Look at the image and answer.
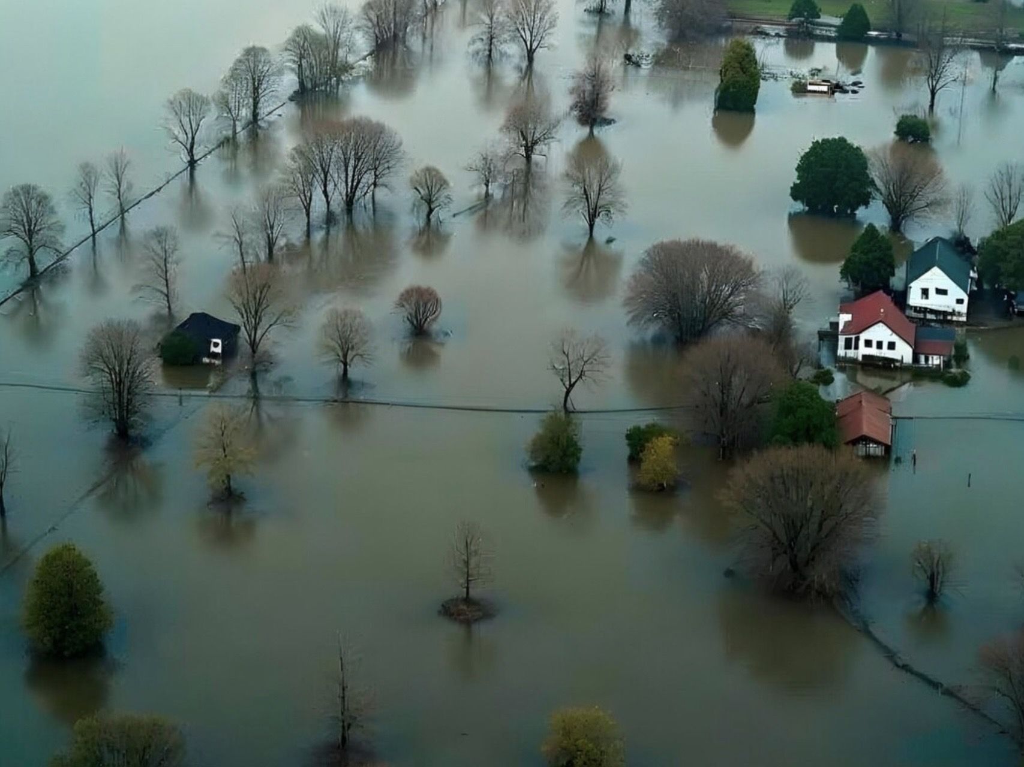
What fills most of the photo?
water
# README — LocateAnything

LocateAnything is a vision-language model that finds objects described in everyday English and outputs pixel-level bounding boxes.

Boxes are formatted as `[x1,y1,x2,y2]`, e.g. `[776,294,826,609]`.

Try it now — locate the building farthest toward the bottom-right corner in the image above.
[839,387,898,461]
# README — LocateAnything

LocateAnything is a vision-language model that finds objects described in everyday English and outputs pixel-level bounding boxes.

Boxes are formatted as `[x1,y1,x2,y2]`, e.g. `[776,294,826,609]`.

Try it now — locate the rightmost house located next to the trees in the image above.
[906,235,978,325]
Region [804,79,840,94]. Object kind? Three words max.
shed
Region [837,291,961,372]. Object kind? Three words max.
house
